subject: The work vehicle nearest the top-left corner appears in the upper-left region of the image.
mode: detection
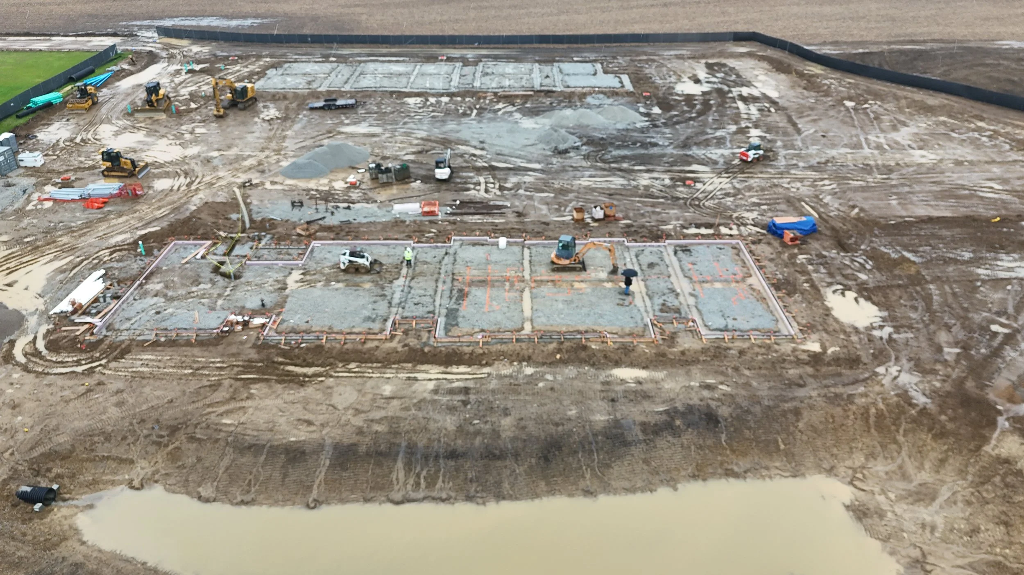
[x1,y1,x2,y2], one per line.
[62,78,109,112]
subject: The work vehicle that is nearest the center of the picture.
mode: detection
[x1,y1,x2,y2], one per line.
[551,231,621,273]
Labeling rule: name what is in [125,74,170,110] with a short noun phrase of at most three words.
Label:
work vehicle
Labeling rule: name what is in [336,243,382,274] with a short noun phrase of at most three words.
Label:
work vehicle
